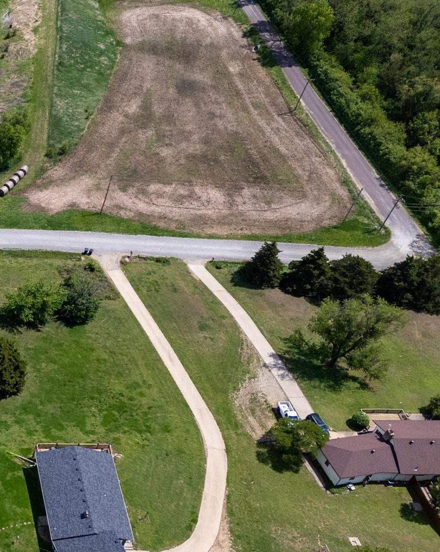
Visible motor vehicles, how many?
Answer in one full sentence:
There are 2 motor vehicles in the image.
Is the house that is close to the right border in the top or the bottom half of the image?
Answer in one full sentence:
The bottom half of the photo is where the house that is close to the right border is.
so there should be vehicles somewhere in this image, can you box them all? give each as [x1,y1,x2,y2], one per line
[271,394,304,423]
[304,410,336,437]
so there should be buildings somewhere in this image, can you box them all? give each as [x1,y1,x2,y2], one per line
[33,447,134,552]
[319,419,440,488]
